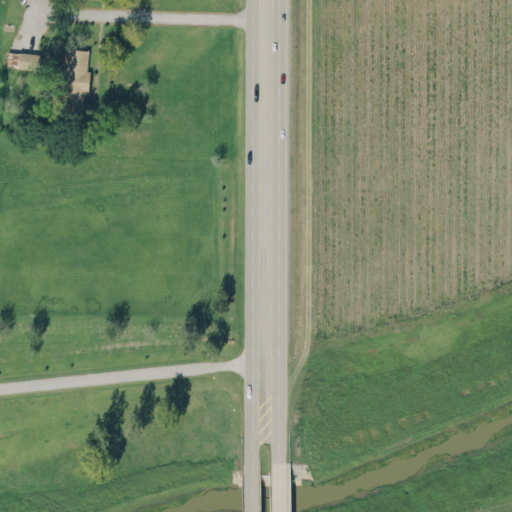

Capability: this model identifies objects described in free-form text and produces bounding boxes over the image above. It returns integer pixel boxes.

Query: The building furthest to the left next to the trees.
[7,53,40,70]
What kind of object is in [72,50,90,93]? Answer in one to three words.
house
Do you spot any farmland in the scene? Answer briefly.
Yes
